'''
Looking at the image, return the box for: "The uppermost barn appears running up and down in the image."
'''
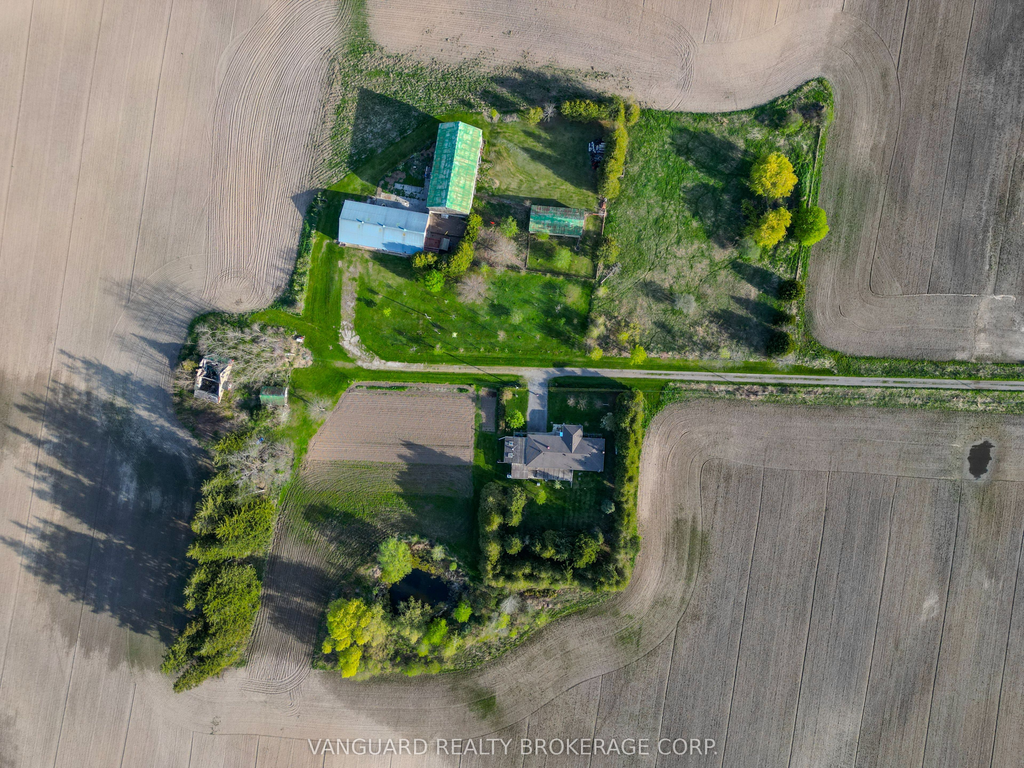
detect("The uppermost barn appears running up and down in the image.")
[426,121,483,217]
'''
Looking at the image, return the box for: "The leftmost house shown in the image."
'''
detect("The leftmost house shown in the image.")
[194,353,233,404]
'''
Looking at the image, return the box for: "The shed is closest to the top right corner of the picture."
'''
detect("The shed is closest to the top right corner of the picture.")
[529,205,584,237]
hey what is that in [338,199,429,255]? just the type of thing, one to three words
shed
